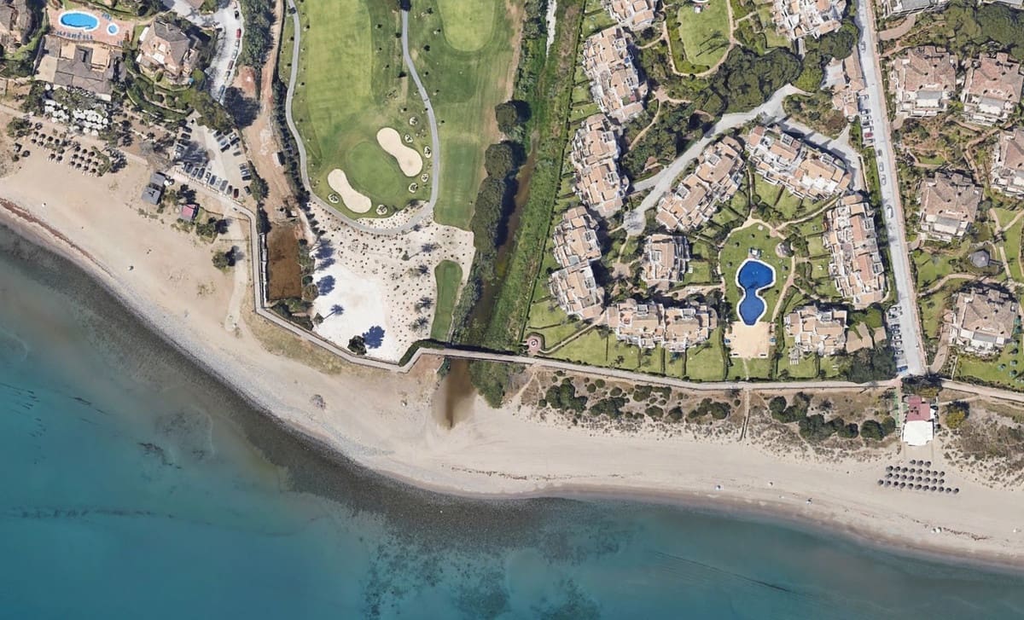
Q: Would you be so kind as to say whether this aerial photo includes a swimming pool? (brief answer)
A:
Yes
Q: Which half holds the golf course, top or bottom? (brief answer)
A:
top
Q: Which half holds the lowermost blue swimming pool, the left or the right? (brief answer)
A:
right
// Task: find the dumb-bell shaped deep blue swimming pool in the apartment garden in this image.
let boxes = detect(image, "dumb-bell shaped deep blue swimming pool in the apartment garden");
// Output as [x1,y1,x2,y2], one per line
[737,259,775,327]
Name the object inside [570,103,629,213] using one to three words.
building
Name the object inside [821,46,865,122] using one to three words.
house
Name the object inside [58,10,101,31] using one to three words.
swimming pool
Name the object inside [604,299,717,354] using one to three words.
building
